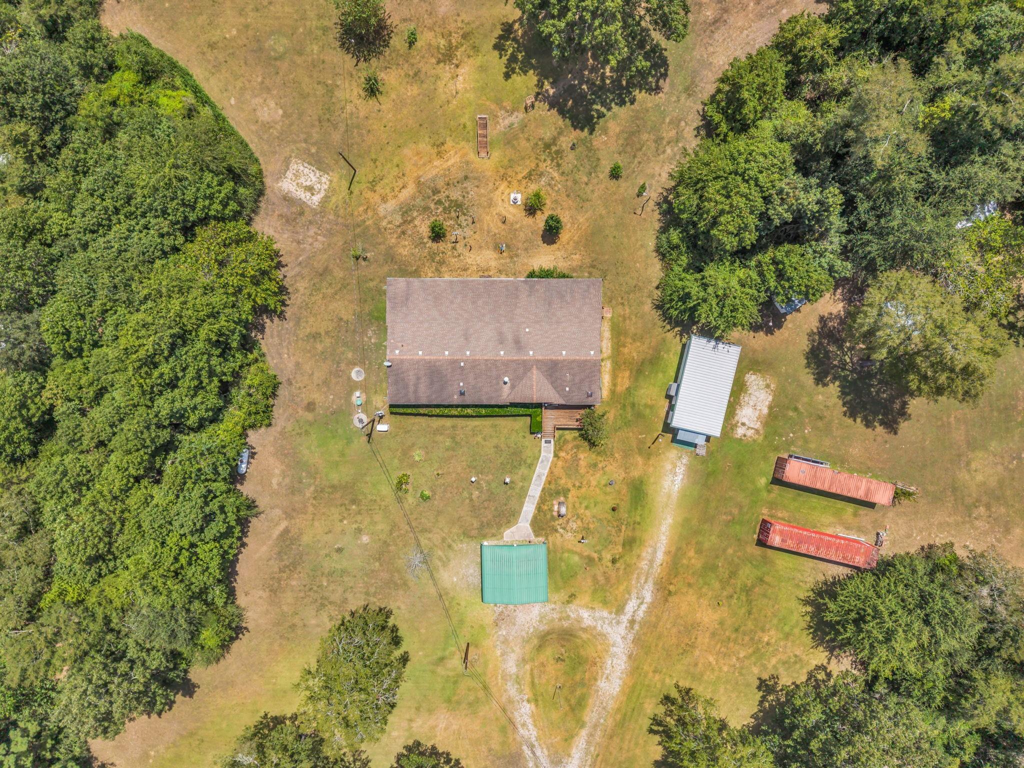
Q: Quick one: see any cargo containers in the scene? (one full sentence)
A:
Yes, a cargo container appears in the view.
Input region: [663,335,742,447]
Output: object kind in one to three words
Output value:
building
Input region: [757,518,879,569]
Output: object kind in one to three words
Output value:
shipping container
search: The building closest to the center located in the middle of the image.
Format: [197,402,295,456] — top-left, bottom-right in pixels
[383,278,603,405]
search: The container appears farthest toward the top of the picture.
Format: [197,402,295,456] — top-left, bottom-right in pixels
[773,456,895,506]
